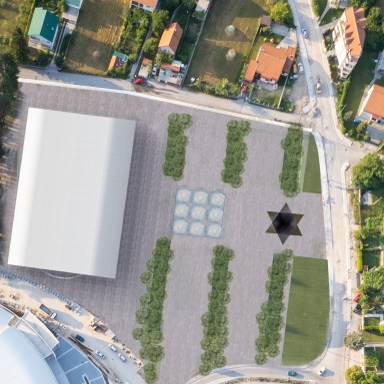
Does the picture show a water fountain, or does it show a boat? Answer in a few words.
water fountain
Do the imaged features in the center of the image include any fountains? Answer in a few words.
Yes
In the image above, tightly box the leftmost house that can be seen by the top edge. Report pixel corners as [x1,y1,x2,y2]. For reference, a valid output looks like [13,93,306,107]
[29,7,59,48]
